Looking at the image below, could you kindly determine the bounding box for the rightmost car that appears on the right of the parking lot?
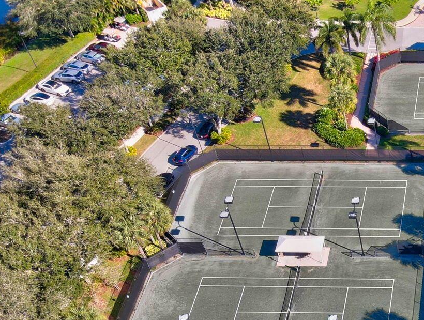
[191,119,220,142]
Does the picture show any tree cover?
Yes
